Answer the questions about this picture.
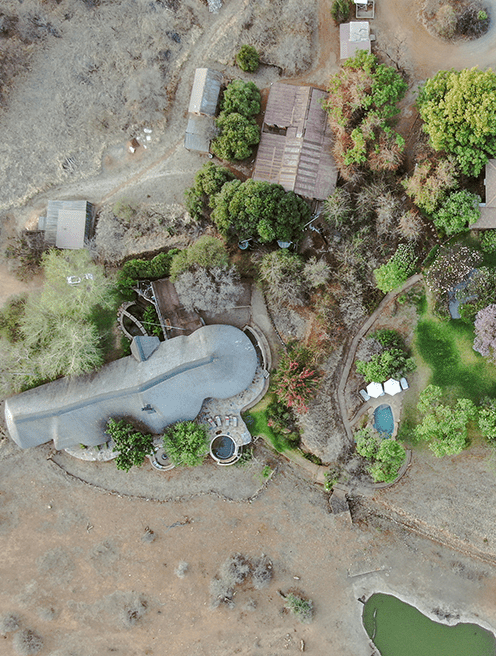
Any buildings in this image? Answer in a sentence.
Yes, the photo shows a building.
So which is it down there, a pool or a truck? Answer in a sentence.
The one in the frame is a pool.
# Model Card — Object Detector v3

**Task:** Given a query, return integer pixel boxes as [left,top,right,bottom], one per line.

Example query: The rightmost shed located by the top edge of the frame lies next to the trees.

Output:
[340,22,375,63]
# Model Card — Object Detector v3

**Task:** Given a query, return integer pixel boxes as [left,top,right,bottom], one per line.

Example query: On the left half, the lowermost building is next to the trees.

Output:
[4,324,257,450]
